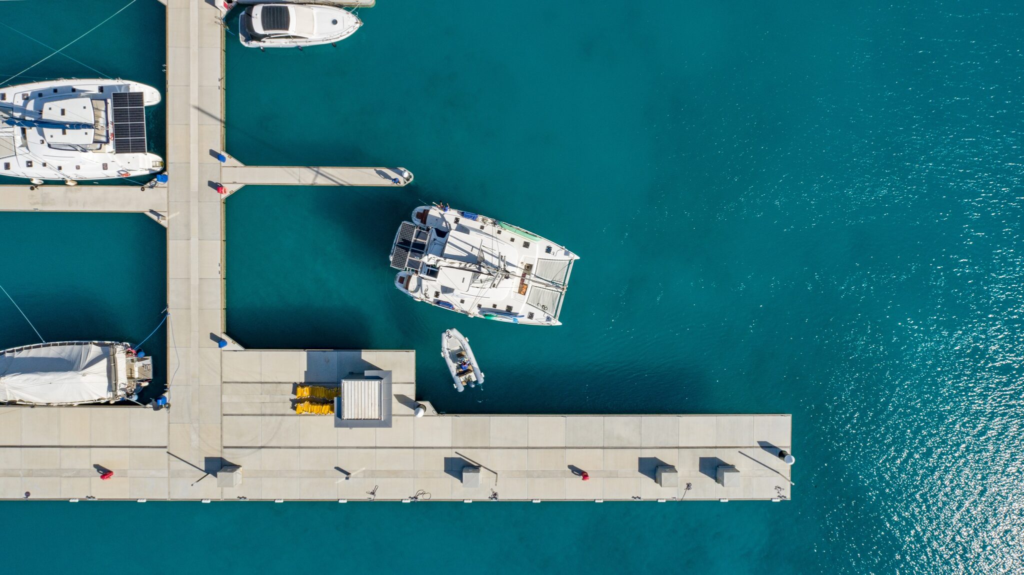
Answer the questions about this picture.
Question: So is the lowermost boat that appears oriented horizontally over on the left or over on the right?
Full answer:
The lowermost boat that appears oriented horizontally appears in the left half of the scene.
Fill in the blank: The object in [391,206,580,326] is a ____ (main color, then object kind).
white boat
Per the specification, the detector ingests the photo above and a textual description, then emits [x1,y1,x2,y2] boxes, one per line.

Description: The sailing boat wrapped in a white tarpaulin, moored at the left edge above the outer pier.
[0,340,153,404]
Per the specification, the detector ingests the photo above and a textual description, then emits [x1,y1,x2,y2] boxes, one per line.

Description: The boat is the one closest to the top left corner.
[0,74,167,182]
